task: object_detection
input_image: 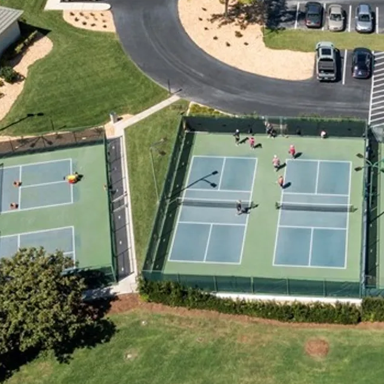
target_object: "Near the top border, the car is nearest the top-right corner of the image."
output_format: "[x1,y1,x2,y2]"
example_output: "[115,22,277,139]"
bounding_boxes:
[355,0,375,29]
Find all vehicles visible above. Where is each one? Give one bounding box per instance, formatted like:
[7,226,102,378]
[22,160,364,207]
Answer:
[352,47,373,77]
[305,0,323,27]
[316,42,338,79]
[355,0,375,29]
[327,1,347,29]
